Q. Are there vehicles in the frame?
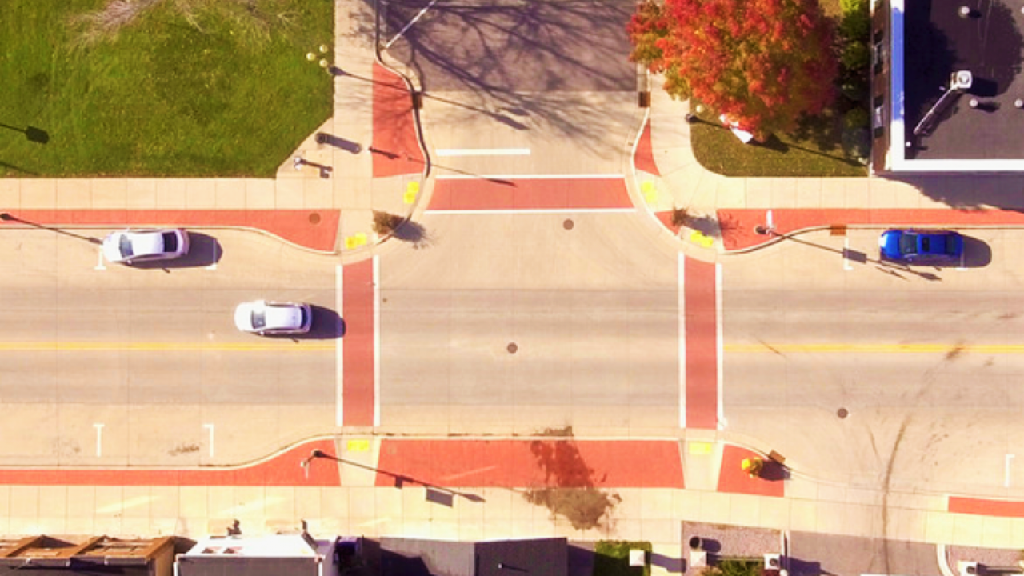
Yes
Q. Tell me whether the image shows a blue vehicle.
Yes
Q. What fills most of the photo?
paved ground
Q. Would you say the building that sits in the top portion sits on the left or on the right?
right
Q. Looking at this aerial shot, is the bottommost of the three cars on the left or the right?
left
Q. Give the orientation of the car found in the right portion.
horizontally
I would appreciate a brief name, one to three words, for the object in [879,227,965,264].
car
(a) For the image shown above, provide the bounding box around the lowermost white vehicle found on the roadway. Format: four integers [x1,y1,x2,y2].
[234,298,312,335]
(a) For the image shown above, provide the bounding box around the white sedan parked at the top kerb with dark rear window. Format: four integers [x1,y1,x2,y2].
[103,227,190,264]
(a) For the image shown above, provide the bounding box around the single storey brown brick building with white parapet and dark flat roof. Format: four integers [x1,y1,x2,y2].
[870,0,1024,179]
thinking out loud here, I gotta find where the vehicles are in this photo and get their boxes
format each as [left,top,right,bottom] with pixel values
[879,227,965,264]
[234,298,312,335]
[103,227,190,264]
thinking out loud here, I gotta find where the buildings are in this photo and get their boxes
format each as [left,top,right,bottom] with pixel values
[474,545,569,576]
[0,535,171,576]
[176,534,326,576]
[870,0,1024,179]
